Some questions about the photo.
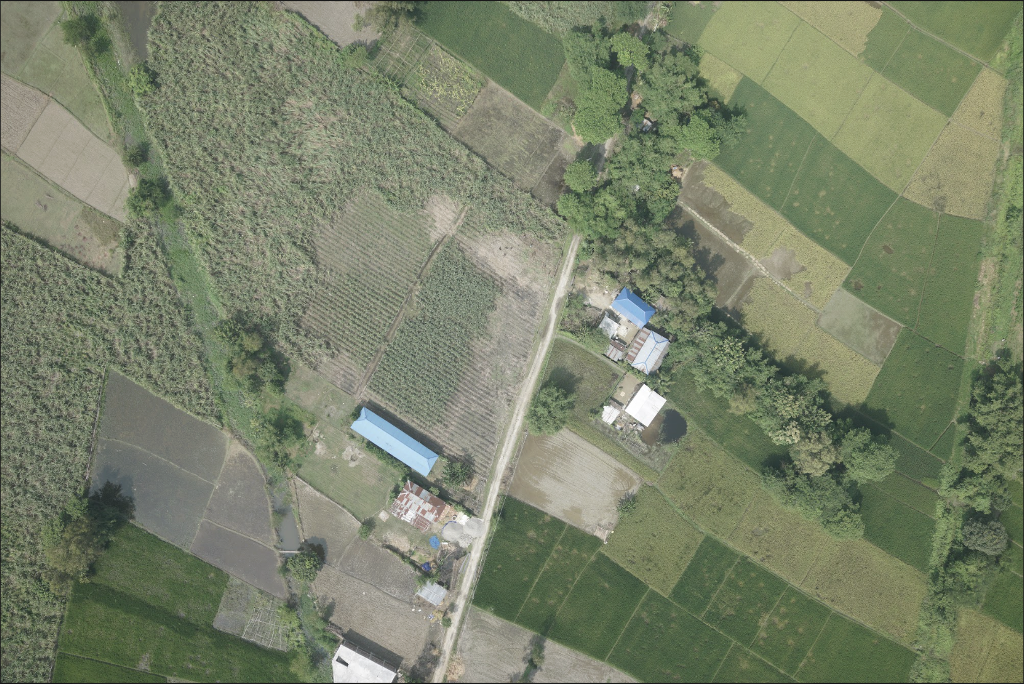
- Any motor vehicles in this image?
No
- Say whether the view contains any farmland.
Yes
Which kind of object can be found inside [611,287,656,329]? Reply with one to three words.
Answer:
house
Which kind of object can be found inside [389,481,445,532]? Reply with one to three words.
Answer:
house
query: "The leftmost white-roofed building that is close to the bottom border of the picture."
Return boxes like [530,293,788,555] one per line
[333,636,400,684]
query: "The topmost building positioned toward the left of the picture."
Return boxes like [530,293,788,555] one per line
[351,407,438,476]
